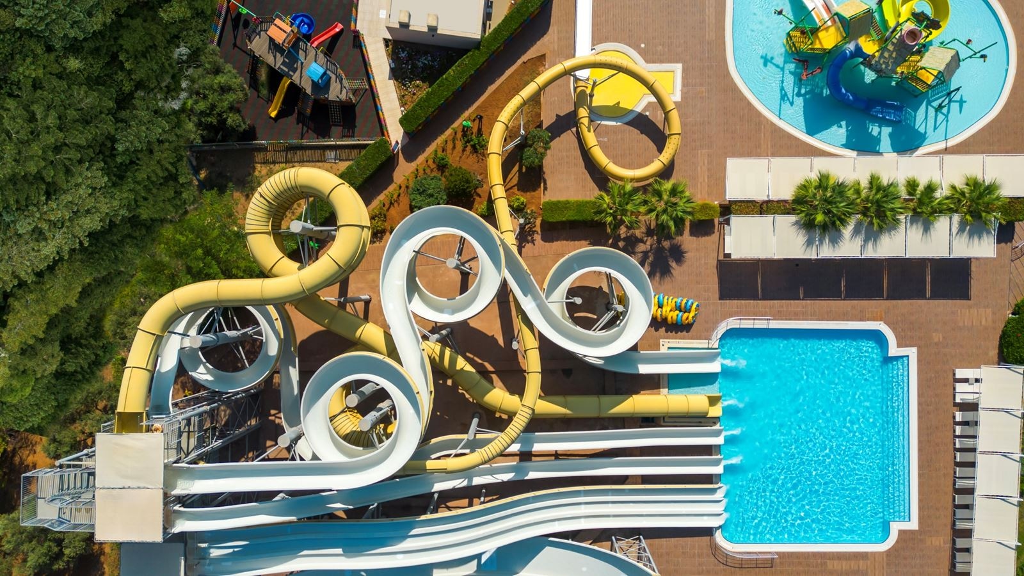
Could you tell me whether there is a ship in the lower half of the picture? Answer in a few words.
No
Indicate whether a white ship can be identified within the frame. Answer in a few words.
No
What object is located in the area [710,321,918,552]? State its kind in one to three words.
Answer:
swimming pool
